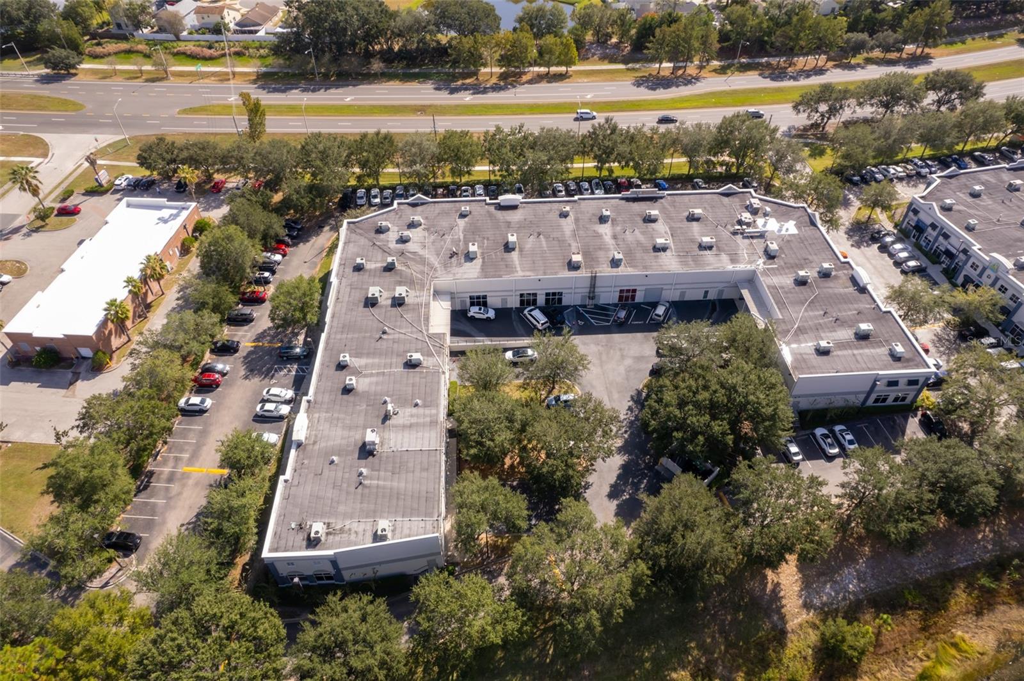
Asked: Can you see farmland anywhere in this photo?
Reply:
No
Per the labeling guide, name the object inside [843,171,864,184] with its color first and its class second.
black vehicle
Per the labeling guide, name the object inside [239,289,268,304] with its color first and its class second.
red car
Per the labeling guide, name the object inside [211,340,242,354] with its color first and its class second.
black car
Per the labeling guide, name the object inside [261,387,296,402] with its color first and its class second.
white car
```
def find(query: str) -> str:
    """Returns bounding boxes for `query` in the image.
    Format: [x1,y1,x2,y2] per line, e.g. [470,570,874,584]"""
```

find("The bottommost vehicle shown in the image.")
[101,531,144,553]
